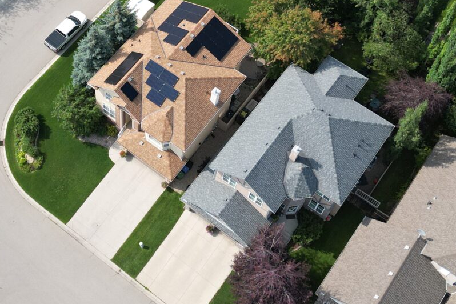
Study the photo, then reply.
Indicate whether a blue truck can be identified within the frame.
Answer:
No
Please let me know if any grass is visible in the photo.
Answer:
Yes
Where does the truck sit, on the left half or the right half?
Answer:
left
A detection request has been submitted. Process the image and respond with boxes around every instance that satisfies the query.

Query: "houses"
[88,0,252,185]
[315,135,456,304]
[181,56,395,249]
